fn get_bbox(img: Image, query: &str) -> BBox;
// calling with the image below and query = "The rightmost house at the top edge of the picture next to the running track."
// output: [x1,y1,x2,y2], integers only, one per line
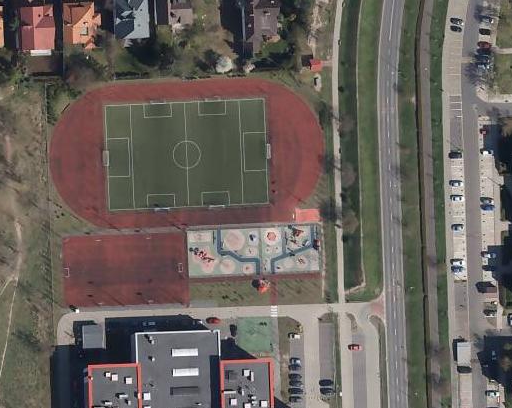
[244,0,280,54]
